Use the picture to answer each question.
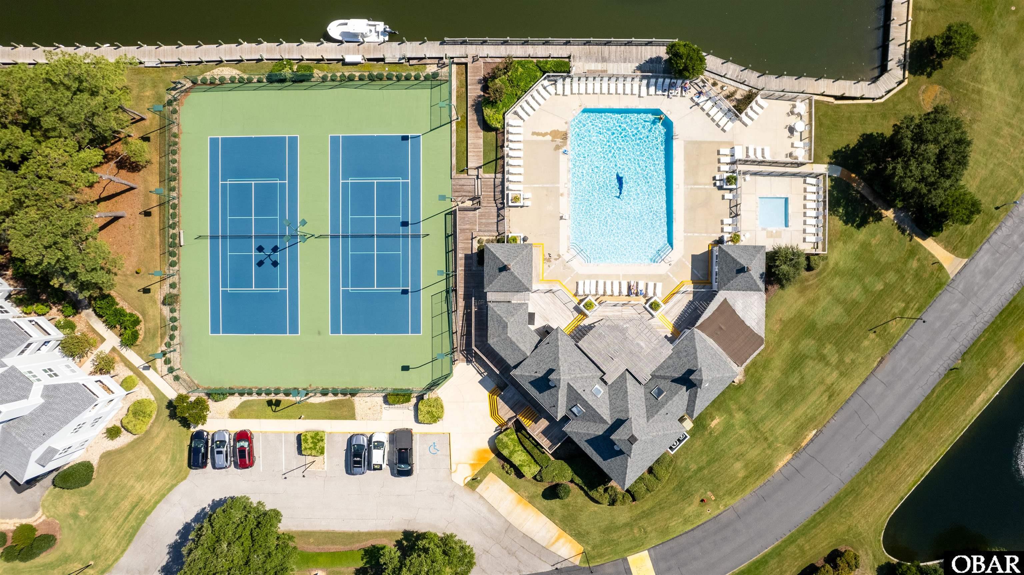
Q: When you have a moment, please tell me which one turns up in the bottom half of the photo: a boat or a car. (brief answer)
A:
car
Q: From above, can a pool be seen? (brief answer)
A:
Yes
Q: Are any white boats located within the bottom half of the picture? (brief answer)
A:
No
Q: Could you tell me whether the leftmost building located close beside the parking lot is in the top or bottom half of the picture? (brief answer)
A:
bottom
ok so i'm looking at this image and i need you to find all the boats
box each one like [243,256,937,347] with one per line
[326,15,399,42]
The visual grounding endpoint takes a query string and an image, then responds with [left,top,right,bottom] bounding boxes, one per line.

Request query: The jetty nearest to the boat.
[0,37,681,74]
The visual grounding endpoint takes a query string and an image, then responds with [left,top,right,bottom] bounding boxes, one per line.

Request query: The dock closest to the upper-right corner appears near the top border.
[679,0,912,102]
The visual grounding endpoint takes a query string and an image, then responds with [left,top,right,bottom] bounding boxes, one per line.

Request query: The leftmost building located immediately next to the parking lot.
[0,315,140,484]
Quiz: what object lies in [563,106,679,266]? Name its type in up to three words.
swimming pool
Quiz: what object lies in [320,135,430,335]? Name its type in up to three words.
tennis court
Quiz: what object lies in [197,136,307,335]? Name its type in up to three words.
tennis court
